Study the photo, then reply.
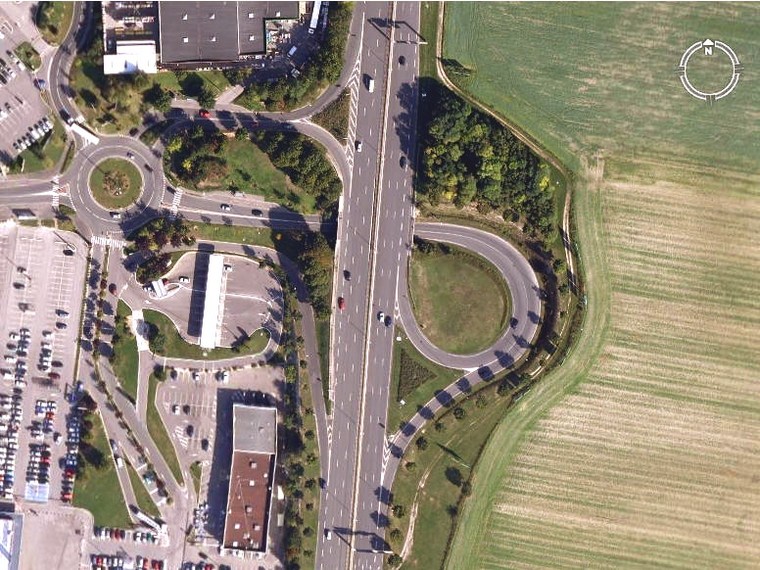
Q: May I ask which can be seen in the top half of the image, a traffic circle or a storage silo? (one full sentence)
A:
The feature located in the top half of the image is a traffic circle.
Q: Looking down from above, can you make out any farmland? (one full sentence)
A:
Yes, farmland shows up in the scene.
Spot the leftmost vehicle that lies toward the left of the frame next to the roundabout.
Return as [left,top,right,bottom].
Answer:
[65,118,99,145]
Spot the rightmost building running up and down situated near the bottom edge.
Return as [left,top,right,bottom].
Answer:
[220,404,277,561]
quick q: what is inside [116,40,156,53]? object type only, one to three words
greenhouse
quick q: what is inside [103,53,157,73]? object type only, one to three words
building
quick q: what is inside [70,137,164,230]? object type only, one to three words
roundabout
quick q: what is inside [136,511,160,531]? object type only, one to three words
bus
